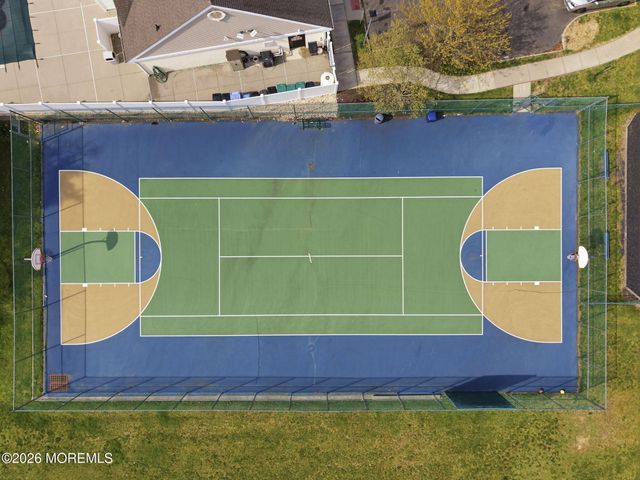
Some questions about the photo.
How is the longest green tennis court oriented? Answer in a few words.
from side to side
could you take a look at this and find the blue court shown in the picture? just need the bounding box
[42,112,579,393]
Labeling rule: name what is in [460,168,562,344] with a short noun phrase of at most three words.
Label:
basketball court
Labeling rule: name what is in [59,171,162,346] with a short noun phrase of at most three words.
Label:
basketball court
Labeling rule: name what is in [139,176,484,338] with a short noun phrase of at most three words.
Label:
tennis court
